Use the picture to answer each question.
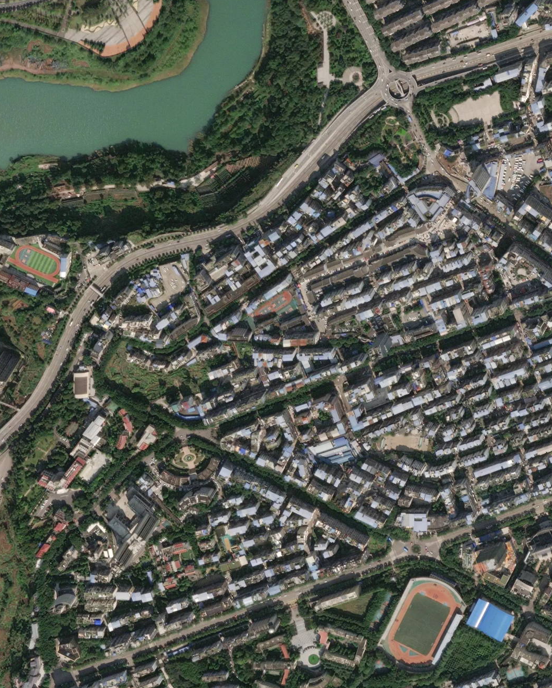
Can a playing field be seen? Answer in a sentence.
Yes, a playing field can be made out from above.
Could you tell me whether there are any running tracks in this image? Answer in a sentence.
Yes, a running track appears in the view.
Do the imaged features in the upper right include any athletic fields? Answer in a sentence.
No, I can find no athletic field in the upper right.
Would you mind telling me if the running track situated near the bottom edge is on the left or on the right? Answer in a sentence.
It is on the right.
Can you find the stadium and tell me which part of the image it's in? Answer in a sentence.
You can find the stadium in the bottom right area of the picture.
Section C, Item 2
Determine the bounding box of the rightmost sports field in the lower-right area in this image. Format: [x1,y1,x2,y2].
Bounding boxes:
[395,592,450,655]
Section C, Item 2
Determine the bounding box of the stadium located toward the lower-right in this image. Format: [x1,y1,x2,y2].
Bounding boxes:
[379,577,465,669]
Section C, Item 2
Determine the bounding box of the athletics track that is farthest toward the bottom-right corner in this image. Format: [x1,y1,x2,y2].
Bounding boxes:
[388,582,460,665]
